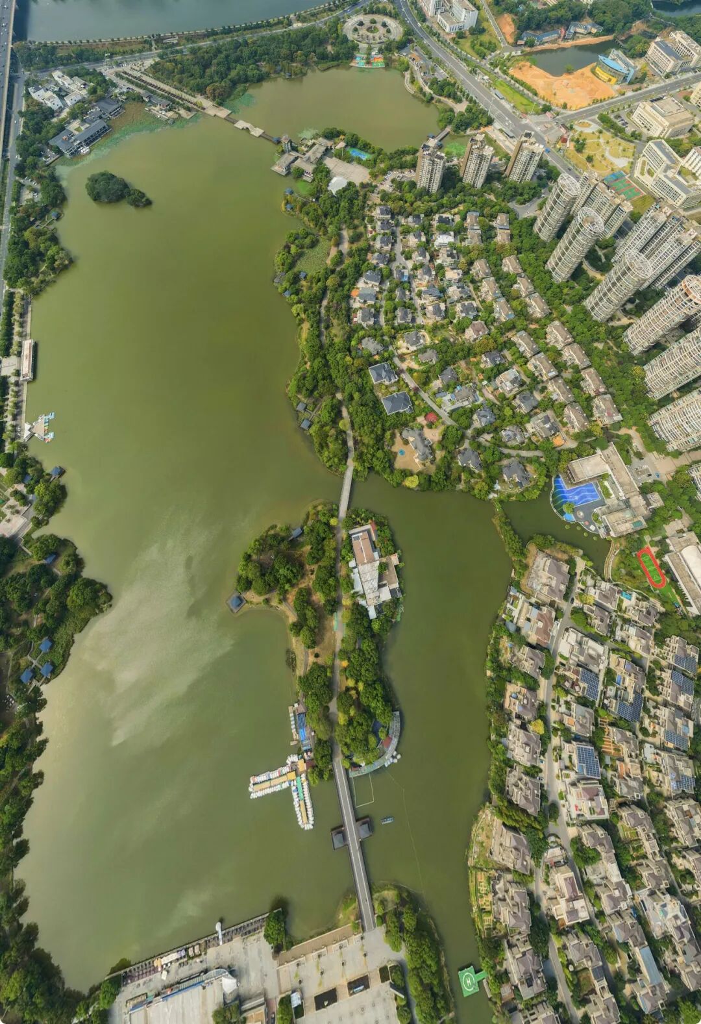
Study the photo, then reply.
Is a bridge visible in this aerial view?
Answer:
Yes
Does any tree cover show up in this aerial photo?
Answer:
Yes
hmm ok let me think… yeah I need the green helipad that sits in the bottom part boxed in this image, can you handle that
[458,964,487,997]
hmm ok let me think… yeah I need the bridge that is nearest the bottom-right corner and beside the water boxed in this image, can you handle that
[330,756,377,936]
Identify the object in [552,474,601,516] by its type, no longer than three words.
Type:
swimming pool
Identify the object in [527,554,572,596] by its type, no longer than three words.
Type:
house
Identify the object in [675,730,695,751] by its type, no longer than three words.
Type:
solar panel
